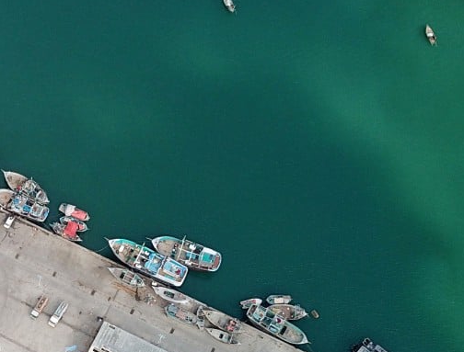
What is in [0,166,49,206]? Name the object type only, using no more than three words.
boat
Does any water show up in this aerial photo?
Yes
